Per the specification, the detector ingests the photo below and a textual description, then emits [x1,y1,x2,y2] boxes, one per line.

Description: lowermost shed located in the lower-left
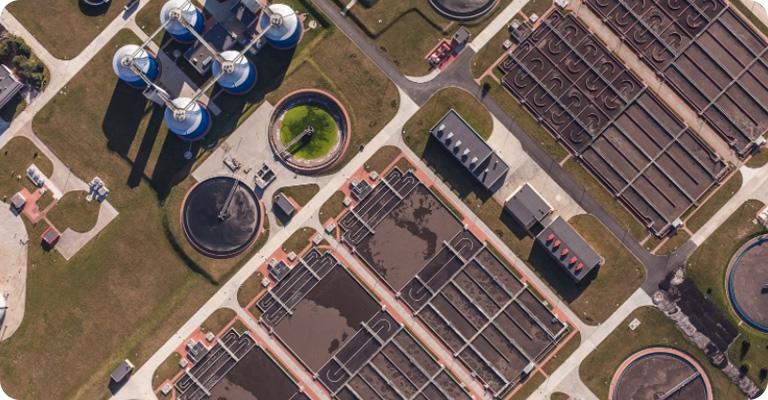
[110,358,136,383]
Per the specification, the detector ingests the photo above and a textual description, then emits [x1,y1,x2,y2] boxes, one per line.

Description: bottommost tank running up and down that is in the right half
[725,233,768,334]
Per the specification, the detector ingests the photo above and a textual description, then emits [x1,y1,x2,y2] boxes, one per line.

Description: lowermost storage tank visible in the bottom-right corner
[610,347,715,400]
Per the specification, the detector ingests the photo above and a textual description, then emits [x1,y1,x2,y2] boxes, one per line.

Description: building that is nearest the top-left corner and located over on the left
[0,62,31,118]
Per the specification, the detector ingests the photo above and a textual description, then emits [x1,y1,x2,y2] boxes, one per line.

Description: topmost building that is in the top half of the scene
[225,0,260,29]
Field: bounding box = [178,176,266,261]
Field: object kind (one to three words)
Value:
storage tank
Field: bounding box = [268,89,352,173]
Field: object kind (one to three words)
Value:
storage tank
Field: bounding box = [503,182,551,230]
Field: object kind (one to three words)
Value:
building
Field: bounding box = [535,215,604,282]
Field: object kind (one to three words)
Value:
building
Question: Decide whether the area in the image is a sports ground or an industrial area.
industrial area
